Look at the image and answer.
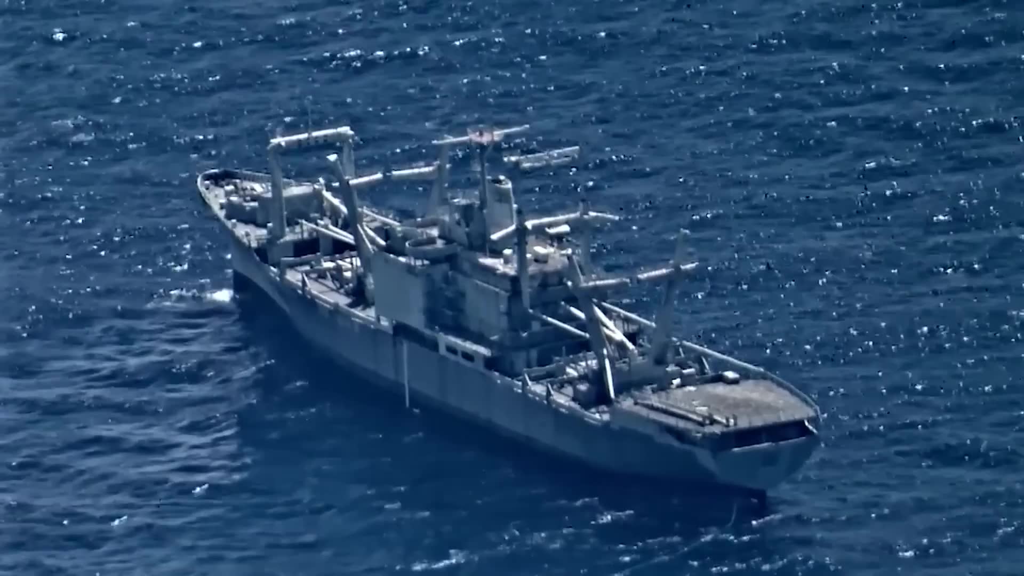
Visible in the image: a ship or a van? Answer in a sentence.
The one in the frame is a ship.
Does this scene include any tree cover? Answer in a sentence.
No, the scene doesn't show any tree cover.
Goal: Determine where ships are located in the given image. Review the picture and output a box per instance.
[196,98,834,489]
